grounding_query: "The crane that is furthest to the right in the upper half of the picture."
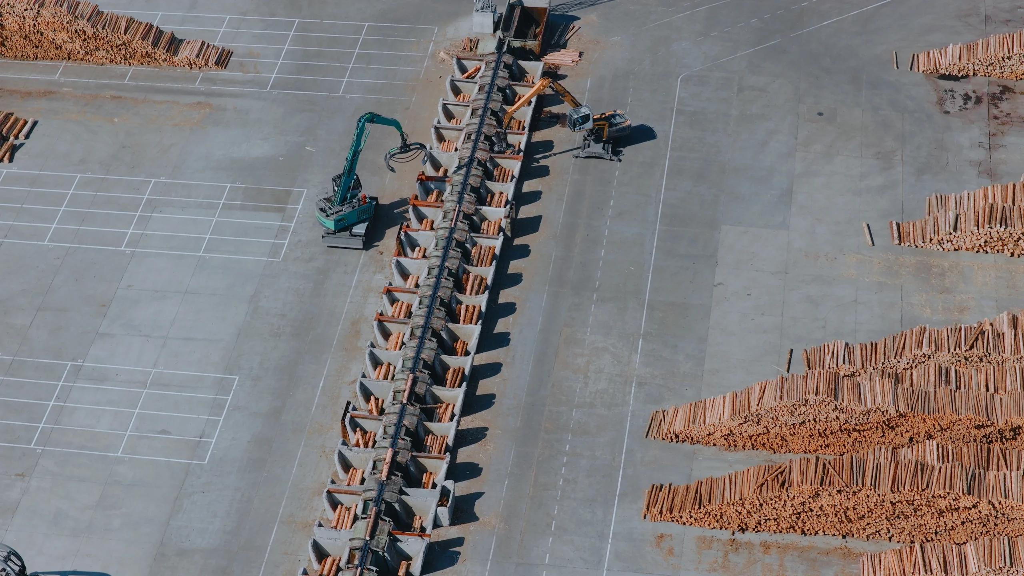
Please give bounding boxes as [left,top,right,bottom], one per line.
[493,72,634,160]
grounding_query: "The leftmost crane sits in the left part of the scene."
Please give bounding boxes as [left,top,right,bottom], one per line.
[318,108,430,250]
